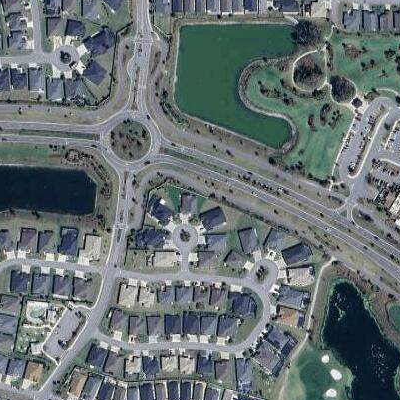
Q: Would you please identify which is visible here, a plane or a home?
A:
home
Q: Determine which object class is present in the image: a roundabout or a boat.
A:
roundabout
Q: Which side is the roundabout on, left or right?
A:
left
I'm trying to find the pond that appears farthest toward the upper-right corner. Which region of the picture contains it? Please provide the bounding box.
[174,23,298,149]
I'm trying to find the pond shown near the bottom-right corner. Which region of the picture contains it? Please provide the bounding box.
[322,278,400,400]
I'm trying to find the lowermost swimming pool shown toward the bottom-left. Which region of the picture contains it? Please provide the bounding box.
[26,301,47,323]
